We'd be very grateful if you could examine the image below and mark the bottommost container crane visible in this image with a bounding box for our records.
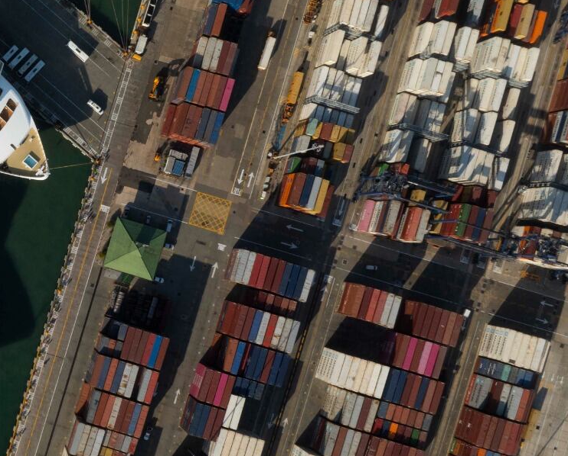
[472,210,568,263]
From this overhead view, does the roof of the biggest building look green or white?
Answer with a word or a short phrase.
green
